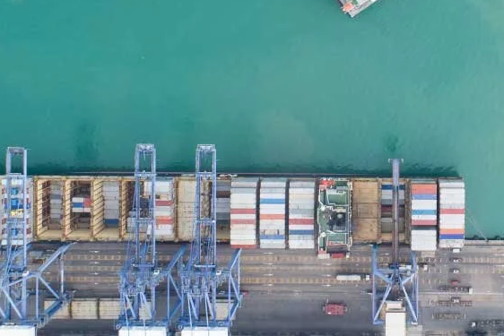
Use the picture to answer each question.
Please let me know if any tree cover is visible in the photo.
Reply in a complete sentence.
No, there's no tree cover in this view.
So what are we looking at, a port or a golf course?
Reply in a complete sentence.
This image shows a port.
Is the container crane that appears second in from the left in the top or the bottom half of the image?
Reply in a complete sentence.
The bottom half of the photo is where the container crane that appears second in from the left is.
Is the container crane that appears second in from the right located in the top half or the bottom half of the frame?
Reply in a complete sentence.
It is in the bottom half that the container crane that appears second in from the right appears.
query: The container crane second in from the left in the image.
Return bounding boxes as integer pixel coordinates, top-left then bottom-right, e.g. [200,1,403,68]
[114,146,193,336]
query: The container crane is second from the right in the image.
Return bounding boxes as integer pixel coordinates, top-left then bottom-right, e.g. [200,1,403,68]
[176,146,251,336]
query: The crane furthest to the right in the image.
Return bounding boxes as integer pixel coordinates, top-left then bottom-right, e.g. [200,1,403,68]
[371,154,422,336]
